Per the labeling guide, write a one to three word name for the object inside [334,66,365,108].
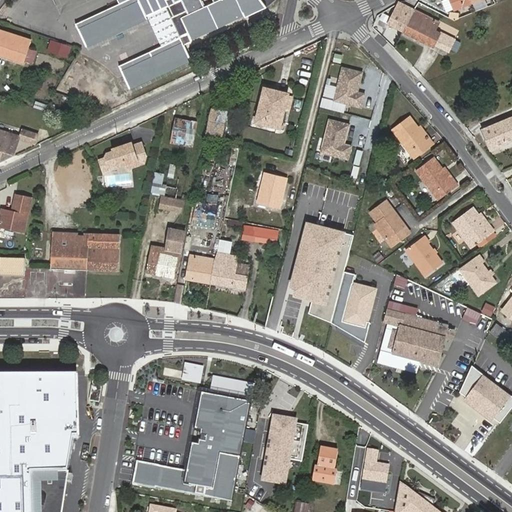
house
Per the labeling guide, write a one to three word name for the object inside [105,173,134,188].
swimming pool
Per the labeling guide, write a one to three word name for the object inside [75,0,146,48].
building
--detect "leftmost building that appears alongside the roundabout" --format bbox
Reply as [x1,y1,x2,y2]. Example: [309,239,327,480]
[0,371,78,512]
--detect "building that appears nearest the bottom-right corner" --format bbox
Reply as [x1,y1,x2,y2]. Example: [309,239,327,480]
[394,482,440,512]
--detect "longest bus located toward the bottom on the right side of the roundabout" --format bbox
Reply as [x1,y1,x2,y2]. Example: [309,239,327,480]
[272,342,316,368]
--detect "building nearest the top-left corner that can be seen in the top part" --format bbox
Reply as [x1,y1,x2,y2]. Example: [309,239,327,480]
[0,29,37,64]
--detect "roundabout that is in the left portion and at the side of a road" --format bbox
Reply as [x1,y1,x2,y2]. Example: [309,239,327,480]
[78,302,152,380]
